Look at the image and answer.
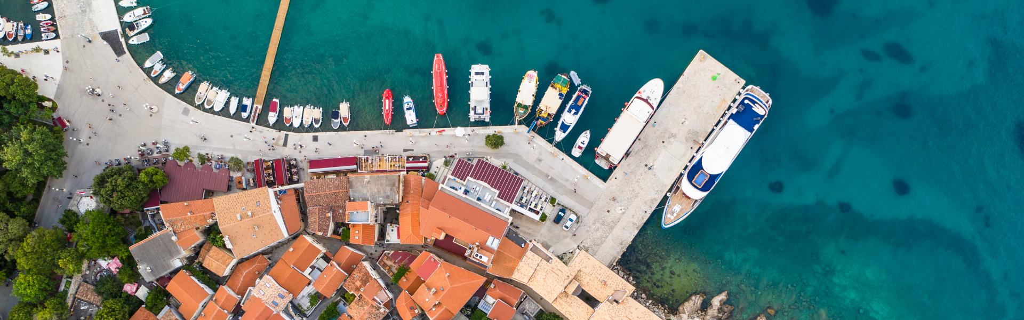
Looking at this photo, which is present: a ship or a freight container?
ship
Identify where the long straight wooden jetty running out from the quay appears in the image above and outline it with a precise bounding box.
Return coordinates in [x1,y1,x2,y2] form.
[248,0,290,125]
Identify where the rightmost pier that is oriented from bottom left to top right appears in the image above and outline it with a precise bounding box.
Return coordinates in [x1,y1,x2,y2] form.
[582,50,745,268]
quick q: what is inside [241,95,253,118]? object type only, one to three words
boat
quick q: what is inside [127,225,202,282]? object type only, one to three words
house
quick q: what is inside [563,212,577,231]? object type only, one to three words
car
